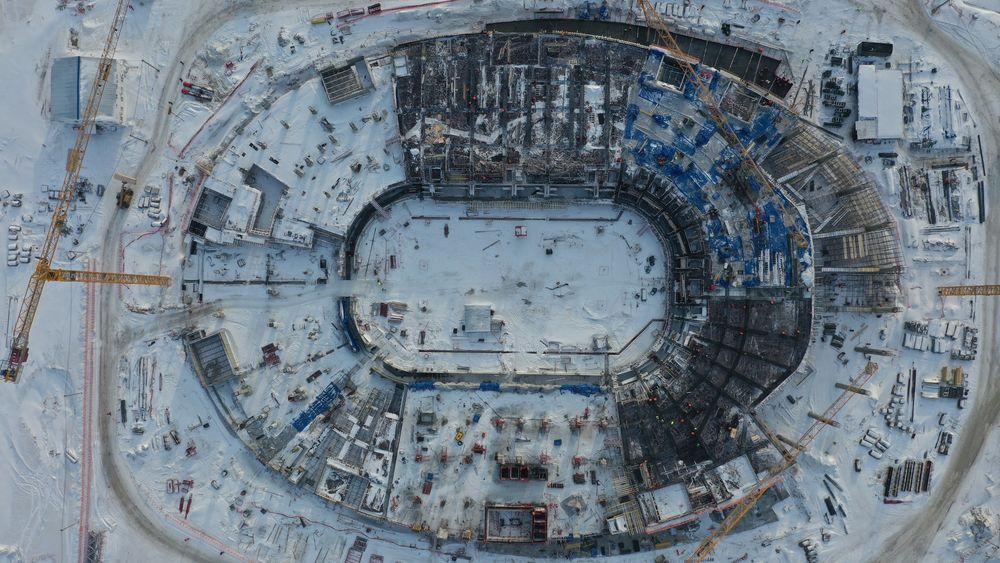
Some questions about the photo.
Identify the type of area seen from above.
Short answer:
sports ground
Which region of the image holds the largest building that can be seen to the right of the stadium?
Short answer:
top right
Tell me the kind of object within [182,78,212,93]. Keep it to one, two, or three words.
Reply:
vehicle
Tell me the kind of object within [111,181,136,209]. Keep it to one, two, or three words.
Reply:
work vehicle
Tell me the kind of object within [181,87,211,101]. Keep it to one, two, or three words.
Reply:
vehicle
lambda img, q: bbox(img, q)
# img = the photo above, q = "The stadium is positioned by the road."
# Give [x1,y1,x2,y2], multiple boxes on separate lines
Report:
[179,33,823,560]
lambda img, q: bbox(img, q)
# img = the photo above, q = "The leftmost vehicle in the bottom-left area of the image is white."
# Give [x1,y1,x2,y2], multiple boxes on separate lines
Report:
[62,446,76,459]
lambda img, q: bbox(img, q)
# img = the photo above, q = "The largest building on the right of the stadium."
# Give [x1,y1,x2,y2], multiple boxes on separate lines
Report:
[849,64,903,143]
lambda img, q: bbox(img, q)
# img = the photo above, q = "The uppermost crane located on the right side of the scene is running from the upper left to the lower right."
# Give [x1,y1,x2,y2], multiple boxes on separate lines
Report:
[637,0,812,250]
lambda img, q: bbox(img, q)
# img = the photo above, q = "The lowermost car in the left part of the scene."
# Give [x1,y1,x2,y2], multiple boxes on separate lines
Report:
[208,478,222,491]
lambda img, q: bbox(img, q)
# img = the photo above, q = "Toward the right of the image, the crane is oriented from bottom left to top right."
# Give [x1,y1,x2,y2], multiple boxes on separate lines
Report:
[683,358,877,563]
